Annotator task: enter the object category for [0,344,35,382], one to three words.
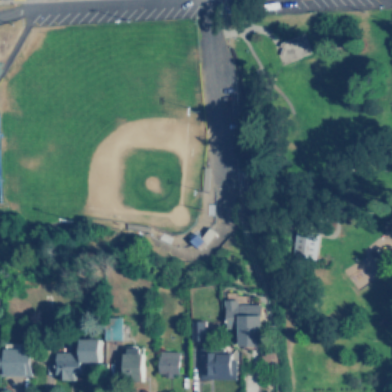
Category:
house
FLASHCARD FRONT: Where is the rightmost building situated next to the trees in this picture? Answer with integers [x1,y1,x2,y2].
[296,236,320,261]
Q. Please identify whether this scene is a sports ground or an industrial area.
sports ground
